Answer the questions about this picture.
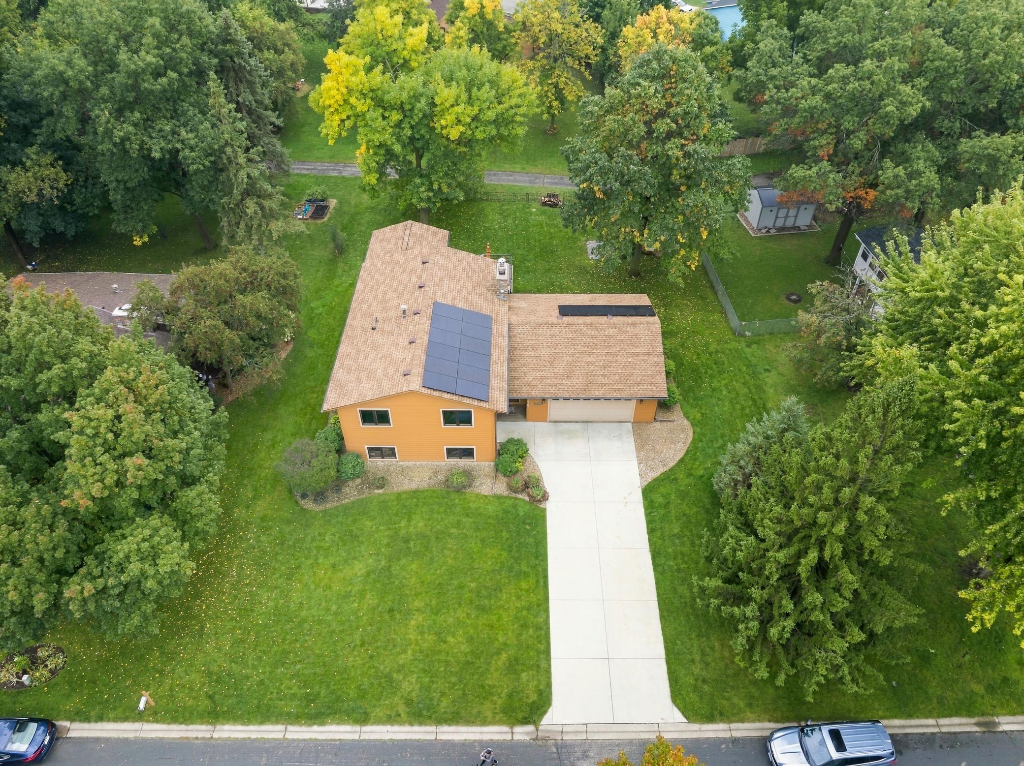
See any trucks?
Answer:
No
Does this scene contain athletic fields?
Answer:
No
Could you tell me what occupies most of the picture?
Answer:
trees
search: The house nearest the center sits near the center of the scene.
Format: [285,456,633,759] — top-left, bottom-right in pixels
[319,221,675,462]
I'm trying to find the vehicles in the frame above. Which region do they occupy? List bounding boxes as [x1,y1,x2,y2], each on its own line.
[760,718,896,766]
[0,718,64,766]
